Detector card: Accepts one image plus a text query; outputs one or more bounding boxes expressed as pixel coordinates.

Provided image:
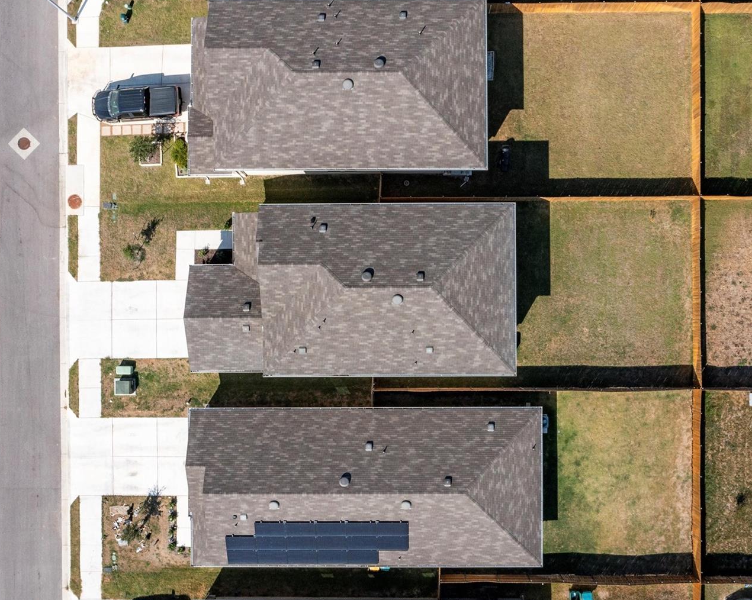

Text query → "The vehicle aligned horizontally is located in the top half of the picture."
[88,83,186,124]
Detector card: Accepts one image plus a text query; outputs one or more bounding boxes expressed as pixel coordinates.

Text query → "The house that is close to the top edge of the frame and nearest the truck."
[185,0,487,194]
